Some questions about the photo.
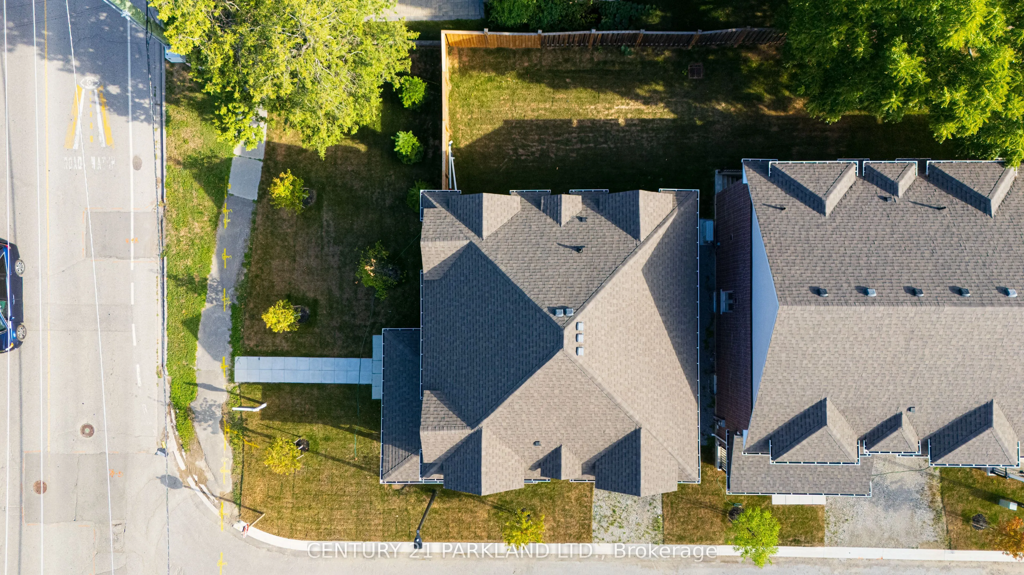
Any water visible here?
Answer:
No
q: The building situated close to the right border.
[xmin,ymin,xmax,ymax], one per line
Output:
[705,159,1024,495]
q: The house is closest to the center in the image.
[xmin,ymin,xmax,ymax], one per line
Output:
[381,189,700,498]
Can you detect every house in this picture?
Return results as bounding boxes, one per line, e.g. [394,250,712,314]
[381,189,700,498]
[705,159,1024,495]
